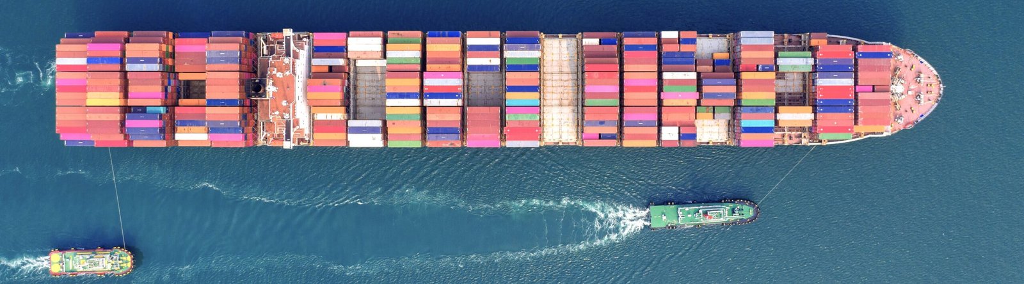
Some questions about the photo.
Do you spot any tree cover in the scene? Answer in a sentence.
No, there is no tree cover in the image.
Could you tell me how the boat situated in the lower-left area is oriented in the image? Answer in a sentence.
In this picture, the boat situated in the lower-left area is oriented from left to right.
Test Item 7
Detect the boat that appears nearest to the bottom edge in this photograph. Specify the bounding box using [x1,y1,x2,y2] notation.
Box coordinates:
[50,247,137,276]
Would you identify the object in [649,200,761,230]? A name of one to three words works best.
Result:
boat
